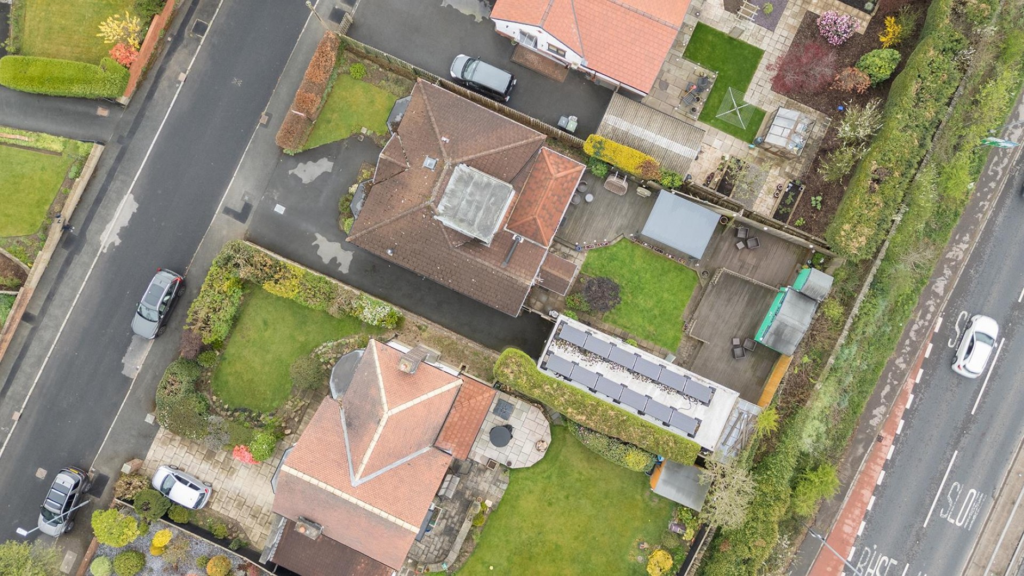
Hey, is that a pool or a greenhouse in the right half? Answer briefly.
greenhouse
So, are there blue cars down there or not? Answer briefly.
No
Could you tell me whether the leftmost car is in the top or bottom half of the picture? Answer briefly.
bottom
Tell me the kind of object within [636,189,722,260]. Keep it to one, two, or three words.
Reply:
gazebo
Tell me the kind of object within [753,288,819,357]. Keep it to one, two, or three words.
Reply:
shed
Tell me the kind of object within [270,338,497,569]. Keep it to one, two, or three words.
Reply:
house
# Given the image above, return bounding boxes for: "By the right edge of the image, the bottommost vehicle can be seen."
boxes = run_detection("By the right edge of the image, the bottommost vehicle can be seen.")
[952,314,1008,385]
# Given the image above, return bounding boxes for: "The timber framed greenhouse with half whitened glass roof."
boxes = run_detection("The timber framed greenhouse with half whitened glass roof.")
[756,107,816,161]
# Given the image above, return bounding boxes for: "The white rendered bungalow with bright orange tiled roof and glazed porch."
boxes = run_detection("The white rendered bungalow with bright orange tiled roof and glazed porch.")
[487,0,695,100]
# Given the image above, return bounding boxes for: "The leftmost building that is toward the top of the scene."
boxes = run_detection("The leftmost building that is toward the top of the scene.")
[346,79,587,317]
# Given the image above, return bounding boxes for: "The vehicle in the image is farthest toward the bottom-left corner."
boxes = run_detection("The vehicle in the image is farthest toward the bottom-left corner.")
[26,464,89,544]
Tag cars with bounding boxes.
[145,466,212,517]
[26,464,89,544]
[446,52,522,109]
[123,265,183,343]
[952,314,1008,385]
